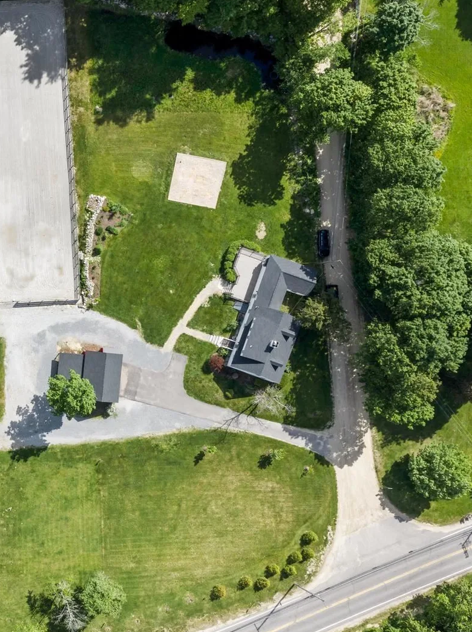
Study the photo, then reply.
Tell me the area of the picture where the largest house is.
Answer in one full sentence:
The largest house appears toward the center of the photo.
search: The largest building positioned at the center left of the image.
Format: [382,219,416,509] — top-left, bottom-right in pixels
[81,346,123,403]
